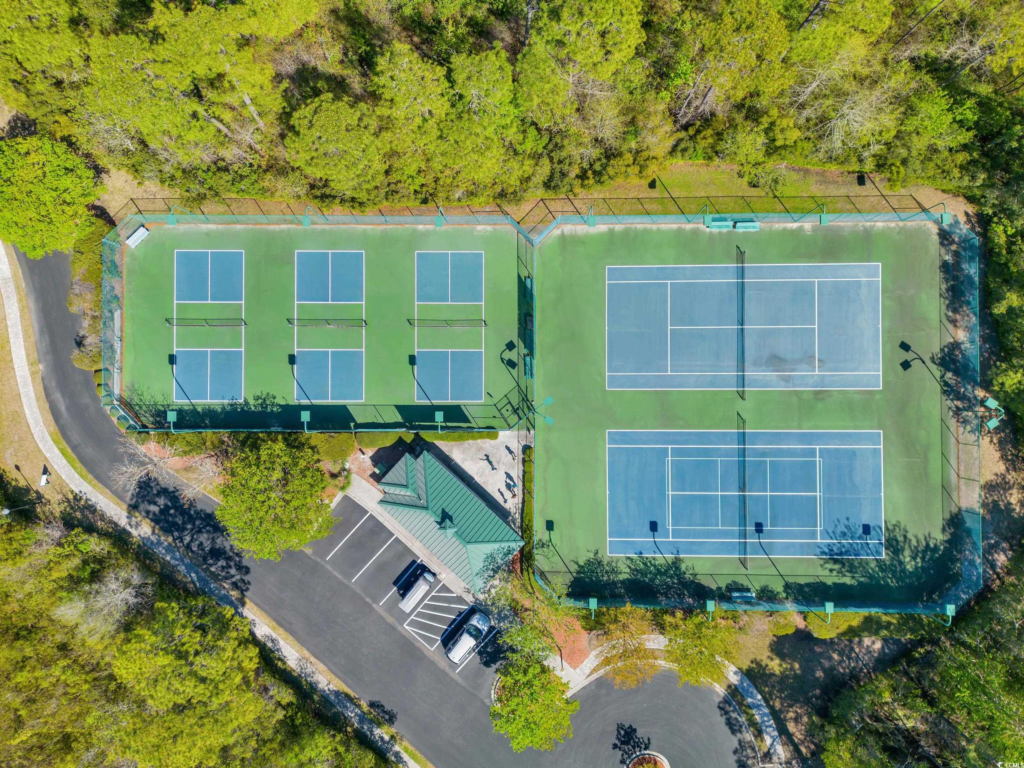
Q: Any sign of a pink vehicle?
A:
No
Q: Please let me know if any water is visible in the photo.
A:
No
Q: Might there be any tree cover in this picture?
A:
Yes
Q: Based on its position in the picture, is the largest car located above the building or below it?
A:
below it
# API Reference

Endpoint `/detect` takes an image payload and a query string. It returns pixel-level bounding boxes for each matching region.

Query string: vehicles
[445,610,491,665]
[397,570,435,613]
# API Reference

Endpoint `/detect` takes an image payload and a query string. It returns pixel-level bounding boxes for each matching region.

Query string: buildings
[377,450,524,593]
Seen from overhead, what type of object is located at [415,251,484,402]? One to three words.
sports court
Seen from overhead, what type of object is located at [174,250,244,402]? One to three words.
sports court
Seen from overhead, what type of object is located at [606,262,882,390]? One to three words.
tennis court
